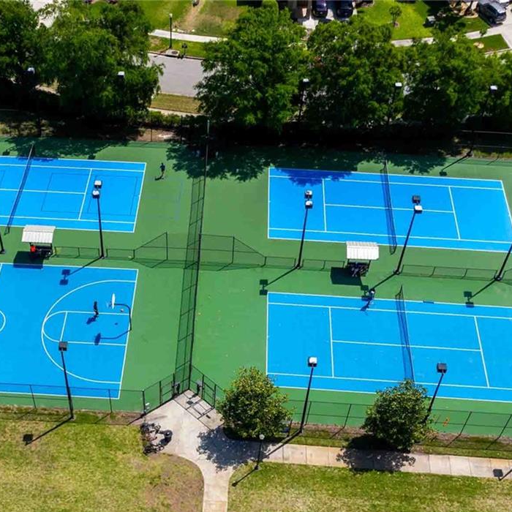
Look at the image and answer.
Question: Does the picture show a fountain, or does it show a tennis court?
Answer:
tennis court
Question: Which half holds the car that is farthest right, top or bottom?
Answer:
top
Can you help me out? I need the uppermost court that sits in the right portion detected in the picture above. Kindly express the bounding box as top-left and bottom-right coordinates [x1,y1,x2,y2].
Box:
[201,145,512,280]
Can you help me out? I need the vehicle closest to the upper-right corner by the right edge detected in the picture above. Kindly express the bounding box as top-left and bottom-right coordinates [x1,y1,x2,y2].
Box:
[478,0,512,25]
